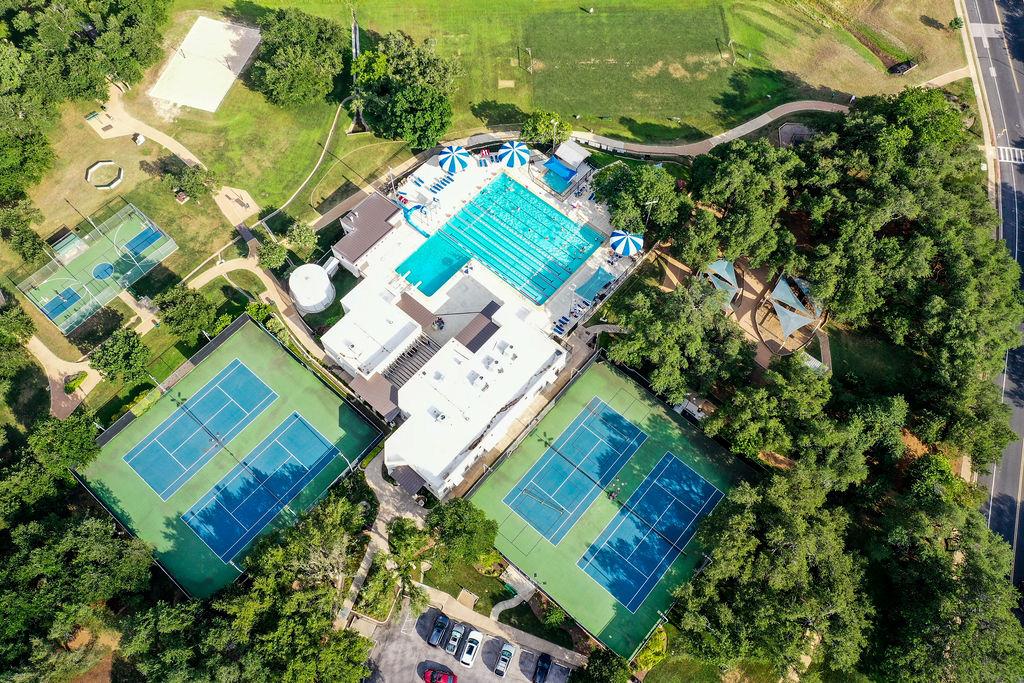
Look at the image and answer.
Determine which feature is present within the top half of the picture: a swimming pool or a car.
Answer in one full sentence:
You can see a swimming pool within the top half of the picture.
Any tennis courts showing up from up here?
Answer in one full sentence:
Yes, I can see a tennis court in this picture.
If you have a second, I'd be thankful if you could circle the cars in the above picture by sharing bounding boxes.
[493,644,516,680]
[532,653,551,683]
[445,625,465,658]
[425,670,459,683]
[460,631,482,670]
[426,612,451,651]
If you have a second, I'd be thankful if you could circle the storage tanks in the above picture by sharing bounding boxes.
[288,266,337,313]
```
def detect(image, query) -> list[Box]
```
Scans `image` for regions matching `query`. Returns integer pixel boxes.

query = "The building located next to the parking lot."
[320,277,566,504]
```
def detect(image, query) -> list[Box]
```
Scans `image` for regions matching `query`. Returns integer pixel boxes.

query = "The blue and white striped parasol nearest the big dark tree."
[438,146,469,170]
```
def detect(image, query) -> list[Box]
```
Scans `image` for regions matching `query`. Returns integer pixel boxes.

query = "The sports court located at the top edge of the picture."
[148,15,261,113]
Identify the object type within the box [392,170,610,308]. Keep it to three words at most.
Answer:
swimming pool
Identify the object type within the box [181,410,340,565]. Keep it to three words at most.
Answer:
tennis court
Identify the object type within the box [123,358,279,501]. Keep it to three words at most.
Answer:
tennis court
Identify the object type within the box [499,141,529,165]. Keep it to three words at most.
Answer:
umbrella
